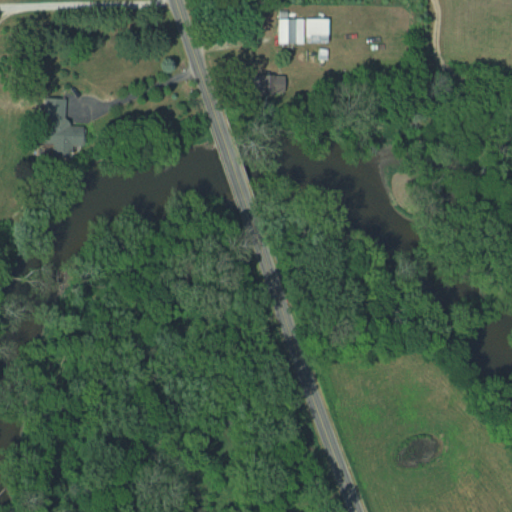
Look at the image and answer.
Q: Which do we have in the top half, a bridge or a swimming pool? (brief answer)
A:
bridge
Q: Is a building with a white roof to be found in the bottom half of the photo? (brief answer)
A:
No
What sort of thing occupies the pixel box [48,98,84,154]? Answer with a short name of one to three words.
house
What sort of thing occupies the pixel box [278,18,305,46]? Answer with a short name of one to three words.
barn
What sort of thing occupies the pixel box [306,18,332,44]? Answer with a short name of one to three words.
building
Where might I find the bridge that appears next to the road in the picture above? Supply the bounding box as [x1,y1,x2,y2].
[210,126,260,217]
